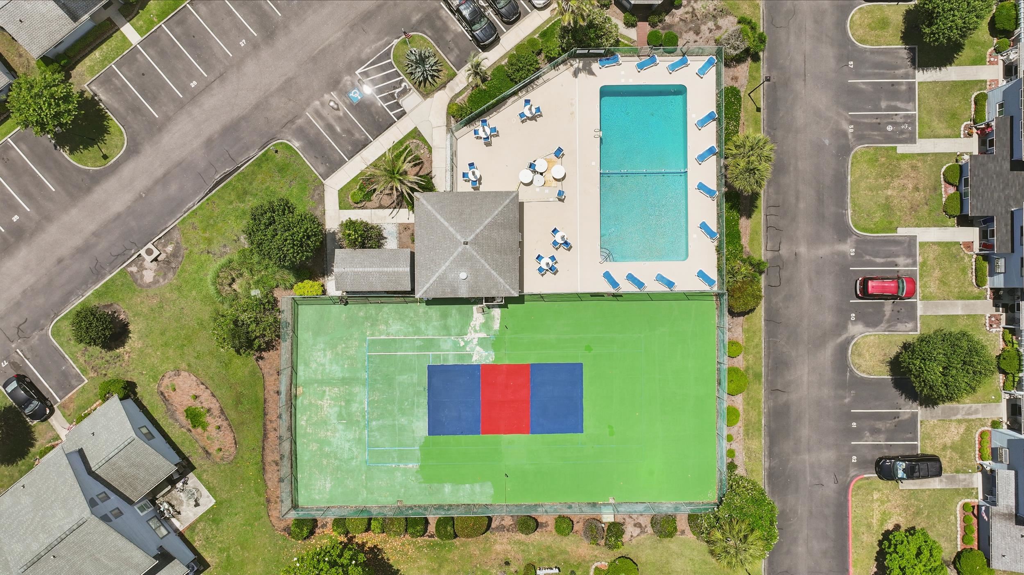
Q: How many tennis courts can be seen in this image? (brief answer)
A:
1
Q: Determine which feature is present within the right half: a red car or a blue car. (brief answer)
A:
red car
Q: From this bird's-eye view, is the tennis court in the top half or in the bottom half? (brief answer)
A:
bottom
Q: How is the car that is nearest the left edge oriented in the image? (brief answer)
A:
on a diagonal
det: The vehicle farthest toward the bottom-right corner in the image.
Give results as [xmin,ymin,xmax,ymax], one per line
[875,453,940,481]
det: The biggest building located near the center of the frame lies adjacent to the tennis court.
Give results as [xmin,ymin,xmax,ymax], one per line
[413,189,522,298]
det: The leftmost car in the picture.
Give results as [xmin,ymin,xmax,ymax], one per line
[2,371,53,423]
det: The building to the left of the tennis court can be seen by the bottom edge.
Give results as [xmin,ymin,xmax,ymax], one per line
[0,396,195,575]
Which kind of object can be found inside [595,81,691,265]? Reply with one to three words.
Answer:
swimming pool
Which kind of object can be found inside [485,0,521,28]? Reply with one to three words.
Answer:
car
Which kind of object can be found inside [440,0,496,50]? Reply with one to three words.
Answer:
truck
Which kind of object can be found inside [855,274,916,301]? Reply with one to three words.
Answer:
car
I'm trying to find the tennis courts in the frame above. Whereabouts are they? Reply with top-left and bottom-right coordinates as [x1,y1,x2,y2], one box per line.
[292,293,718,508]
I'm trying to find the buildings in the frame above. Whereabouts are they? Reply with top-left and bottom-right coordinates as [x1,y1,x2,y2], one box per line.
[0,396,195,575]
[978,430,1024,573]
[413,189,522,298]
[0,50,22,100]
[0,0,108,60]
[958,72,1024,289]
[333,249,412,291]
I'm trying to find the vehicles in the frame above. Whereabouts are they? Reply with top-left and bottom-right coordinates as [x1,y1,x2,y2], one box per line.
[2,371,53,423]
[485,0,521,28]
[855,274,916,301]
[875,453,940,481]
[440,0,496,50]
